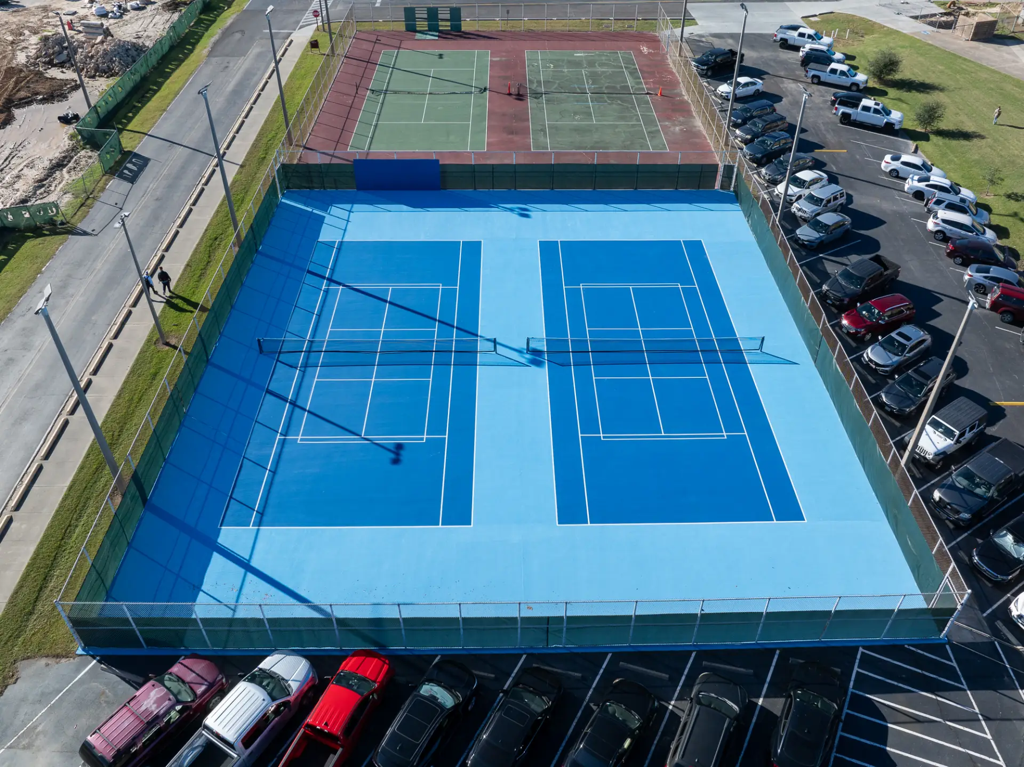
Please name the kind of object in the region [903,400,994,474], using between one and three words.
car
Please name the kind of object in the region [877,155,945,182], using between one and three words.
car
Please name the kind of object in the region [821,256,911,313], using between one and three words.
truck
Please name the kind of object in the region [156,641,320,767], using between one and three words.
truck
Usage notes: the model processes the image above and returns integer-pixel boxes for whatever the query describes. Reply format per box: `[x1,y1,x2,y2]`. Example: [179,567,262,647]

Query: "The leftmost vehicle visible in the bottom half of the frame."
[82,649,235,767]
